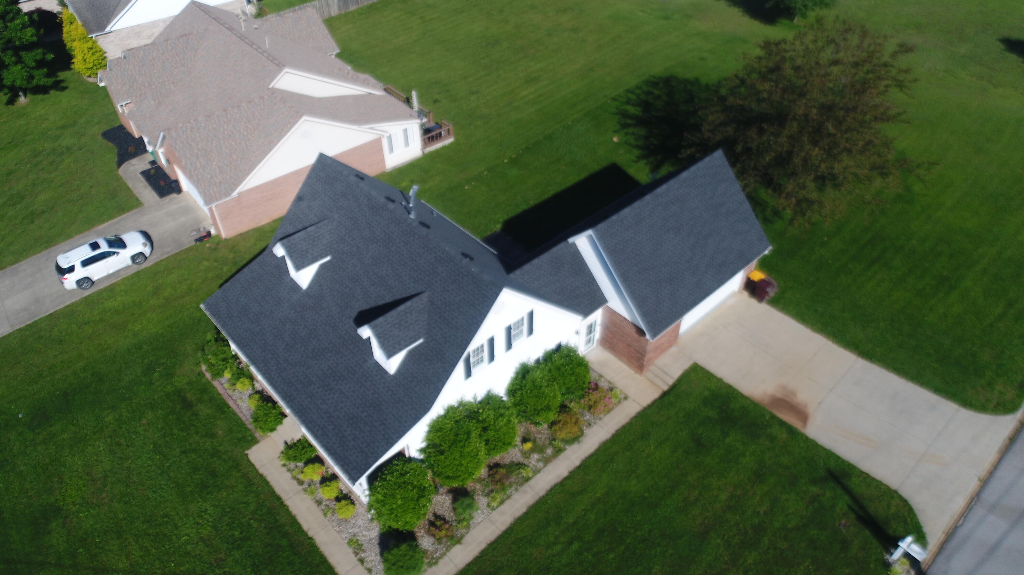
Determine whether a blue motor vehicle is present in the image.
No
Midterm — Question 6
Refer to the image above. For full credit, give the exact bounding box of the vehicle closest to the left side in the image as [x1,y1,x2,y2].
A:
[48,231,153,289]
